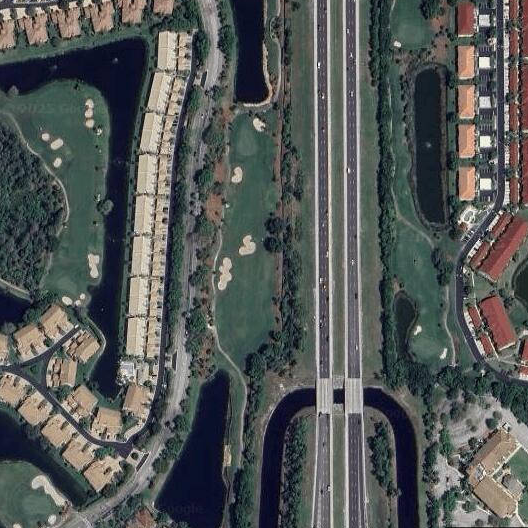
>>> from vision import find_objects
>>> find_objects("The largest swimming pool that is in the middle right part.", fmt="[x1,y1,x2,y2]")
[458,205,478,226]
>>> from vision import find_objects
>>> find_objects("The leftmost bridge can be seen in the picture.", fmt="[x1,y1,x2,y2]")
[316,377,333,413]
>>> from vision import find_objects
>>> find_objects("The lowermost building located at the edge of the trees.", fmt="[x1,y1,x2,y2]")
[127,507,157,528]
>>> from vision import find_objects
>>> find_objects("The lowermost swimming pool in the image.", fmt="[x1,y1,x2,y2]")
[121,359,135,379]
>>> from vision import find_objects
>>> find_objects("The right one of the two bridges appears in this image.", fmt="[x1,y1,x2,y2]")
[345,377,363,413]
